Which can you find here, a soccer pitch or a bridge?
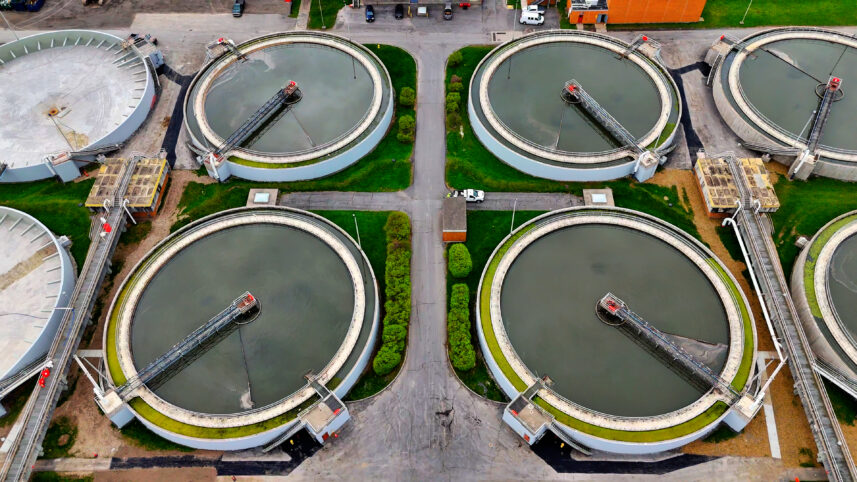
bridge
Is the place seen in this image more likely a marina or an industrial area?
industrial area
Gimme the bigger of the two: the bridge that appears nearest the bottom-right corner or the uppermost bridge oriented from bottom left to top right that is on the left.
the bridge that appears nearest the bottom-right corner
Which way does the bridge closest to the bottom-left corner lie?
on a diagonal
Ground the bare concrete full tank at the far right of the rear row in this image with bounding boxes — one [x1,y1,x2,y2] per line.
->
[697,28,857,186]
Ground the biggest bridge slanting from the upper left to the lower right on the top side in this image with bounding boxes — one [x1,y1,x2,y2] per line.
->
[564,80,654,158]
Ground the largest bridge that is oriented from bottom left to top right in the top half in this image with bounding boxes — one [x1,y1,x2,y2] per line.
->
[209,81,298,159]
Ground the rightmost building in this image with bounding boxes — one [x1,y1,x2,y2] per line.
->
[689,143,781,221]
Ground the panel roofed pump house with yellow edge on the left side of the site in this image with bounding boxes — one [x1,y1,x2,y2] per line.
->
[84,144,175,220]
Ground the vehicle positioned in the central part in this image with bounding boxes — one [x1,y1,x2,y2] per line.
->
[454,189,485,202]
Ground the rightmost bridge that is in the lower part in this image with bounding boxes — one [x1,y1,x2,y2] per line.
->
[600,293,747,402]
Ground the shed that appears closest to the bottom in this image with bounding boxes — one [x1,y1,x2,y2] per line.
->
[442,198,467,239]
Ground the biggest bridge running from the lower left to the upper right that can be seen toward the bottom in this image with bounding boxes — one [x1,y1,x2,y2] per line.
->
[110,291,255,399]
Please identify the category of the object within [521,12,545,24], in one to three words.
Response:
vehicle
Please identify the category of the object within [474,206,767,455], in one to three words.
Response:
storage tank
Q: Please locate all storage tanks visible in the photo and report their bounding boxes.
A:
[91,206,382,453]
[182,32,395,184]
[474,206,767,455]
[781,208,857,427]
[0,207,78,418]
[697,28,857,186]
[467,30,682,184]
[0,31,173,186]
